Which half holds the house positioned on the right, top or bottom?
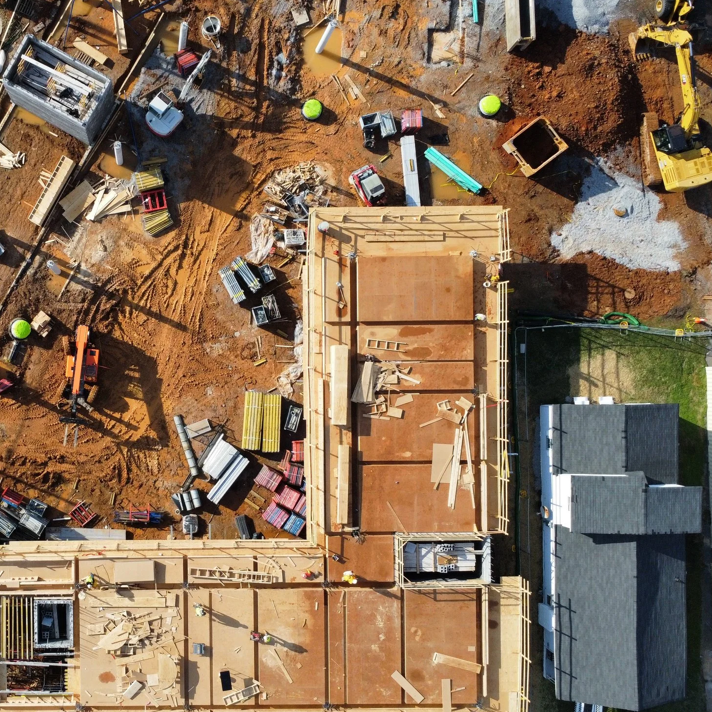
bottom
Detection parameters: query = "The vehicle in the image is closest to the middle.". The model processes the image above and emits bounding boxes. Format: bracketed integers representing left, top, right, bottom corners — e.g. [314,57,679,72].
[346,165,389,206]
